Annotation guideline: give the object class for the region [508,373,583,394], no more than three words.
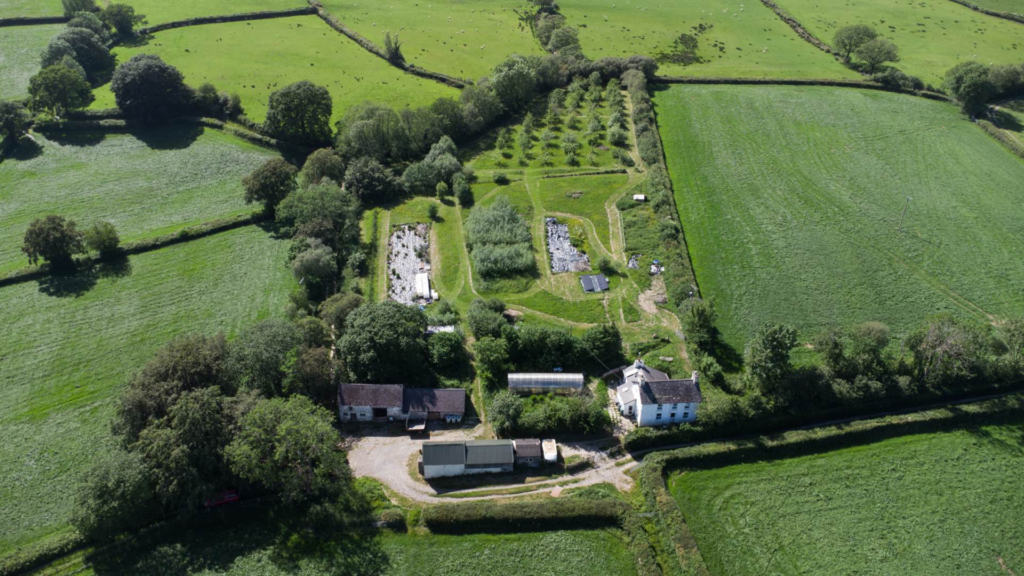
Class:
greenhouse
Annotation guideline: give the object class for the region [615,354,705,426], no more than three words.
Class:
house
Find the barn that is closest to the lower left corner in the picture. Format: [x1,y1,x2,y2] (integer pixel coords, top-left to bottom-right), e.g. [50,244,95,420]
[335,379,409,421]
